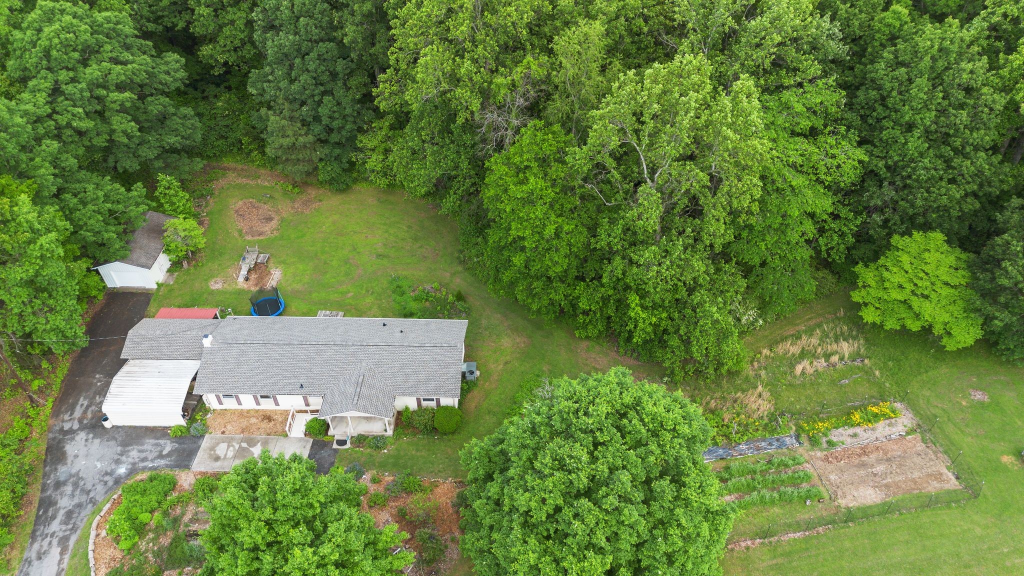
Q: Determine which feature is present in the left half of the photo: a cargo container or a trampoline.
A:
trampoline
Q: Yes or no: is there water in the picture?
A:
No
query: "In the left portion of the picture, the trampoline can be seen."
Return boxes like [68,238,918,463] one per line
[242,283,286,315]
